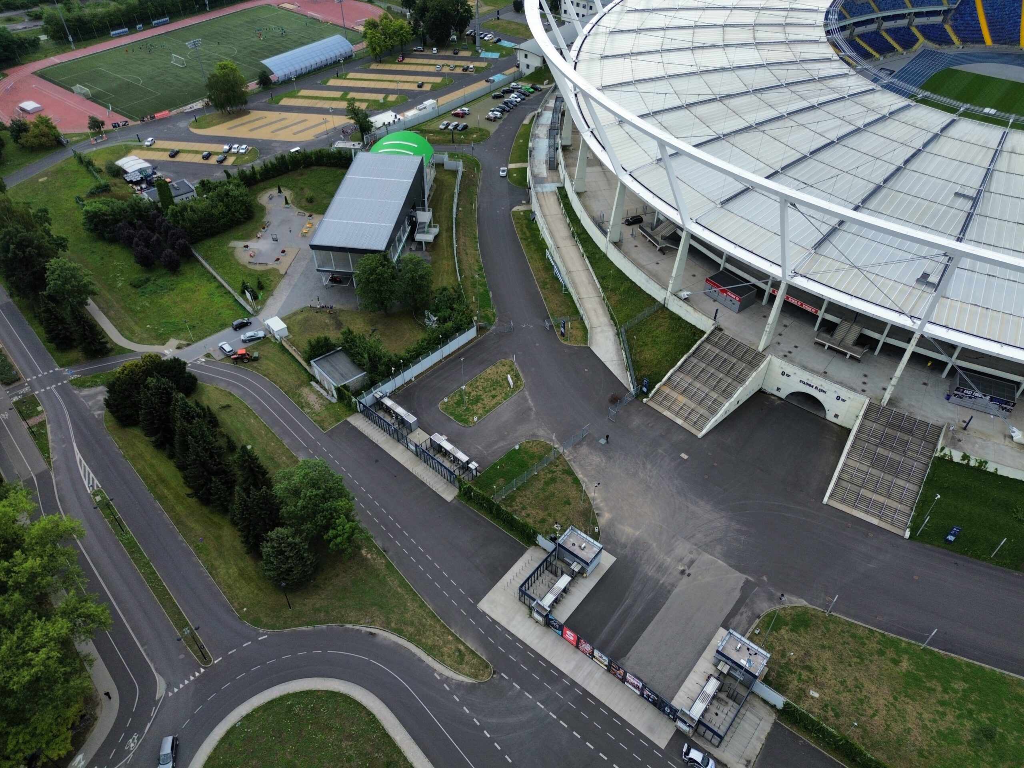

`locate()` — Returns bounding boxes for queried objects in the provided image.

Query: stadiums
[525,0,1024,439]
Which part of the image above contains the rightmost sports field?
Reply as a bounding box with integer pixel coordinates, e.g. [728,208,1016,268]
[909,68,1024,131]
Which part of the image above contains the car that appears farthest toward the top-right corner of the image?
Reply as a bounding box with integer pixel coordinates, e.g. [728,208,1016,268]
[625,213,645,225]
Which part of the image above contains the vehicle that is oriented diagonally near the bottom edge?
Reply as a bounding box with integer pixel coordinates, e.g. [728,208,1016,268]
[679,739,715,768]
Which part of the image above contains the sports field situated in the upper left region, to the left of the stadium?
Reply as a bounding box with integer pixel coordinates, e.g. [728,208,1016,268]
[32,2,357,122]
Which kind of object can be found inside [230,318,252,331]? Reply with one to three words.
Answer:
vehicle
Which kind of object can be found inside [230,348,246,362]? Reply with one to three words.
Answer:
work vehicle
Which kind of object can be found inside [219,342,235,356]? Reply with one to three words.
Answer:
car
